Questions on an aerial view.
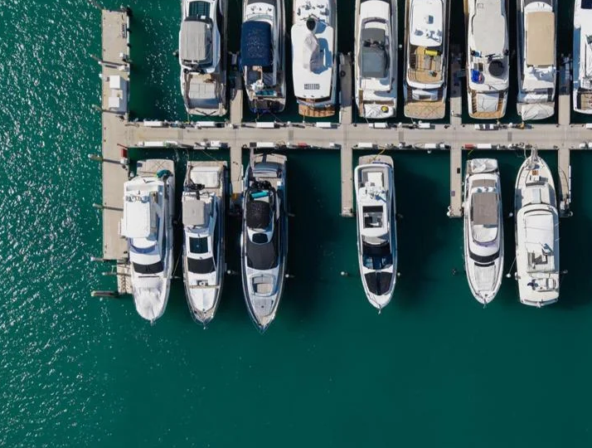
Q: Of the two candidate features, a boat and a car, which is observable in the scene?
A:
boat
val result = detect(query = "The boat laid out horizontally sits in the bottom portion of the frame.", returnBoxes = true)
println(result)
[530,277,559,290]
